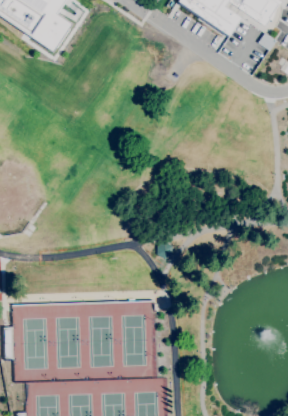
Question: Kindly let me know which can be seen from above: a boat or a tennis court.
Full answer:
This aerial view contains a tennis court.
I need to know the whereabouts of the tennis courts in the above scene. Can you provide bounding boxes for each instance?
[102,392,127,416]
[37,394,61,416]
[123,315,149,366]
[90,316,115,367]
[70,394,94,416]
[56,317,82,368]
[136,392,160,416]
[22,318,48,369]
